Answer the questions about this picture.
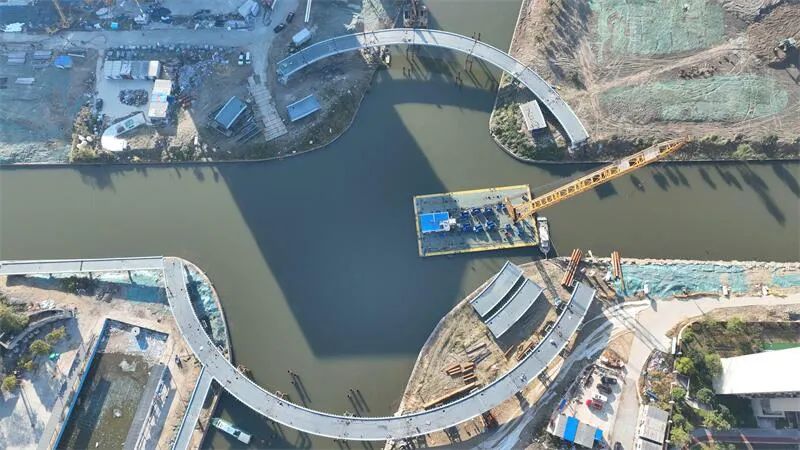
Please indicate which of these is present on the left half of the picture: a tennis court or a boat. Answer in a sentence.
You can see a boat on the left half of the picture.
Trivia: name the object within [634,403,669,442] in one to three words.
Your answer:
shed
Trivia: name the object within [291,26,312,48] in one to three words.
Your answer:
truck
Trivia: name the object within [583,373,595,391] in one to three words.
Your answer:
vehicle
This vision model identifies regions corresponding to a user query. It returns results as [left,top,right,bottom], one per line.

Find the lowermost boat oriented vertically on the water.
[536,217,551,257]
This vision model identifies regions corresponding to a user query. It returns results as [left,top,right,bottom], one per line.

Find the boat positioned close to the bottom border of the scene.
[212,420,253,445]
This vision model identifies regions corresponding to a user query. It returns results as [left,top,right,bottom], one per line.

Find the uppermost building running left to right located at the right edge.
[698,343,800,395]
